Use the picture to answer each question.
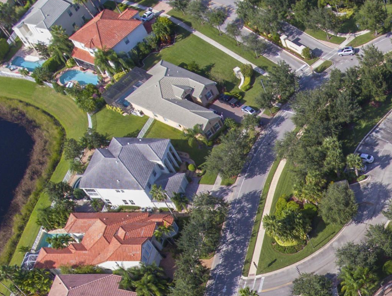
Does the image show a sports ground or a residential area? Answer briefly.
residential area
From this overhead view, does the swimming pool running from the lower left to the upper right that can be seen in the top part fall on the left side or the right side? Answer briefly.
left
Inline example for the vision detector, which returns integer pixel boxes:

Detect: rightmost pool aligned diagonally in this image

[115,80,142,108]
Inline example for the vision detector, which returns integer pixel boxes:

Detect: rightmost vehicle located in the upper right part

[336,45,355,57]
